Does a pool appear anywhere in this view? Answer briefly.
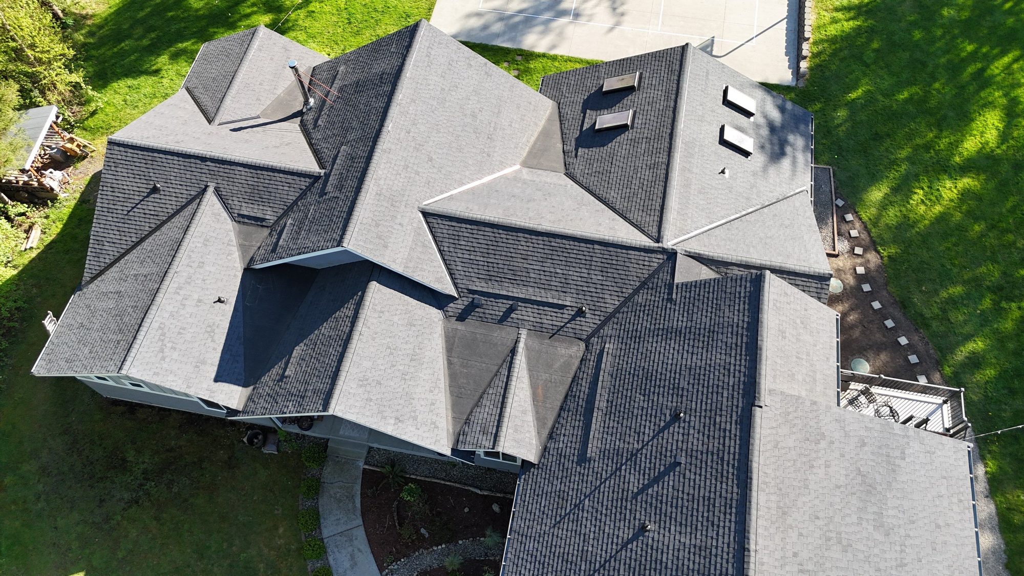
No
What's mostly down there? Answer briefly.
buildings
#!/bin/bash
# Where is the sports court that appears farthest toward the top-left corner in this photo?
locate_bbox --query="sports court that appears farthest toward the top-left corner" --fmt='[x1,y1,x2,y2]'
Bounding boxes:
[429,0,507,44]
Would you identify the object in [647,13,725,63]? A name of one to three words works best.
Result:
sports court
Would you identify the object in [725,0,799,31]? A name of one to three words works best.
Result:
sports court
